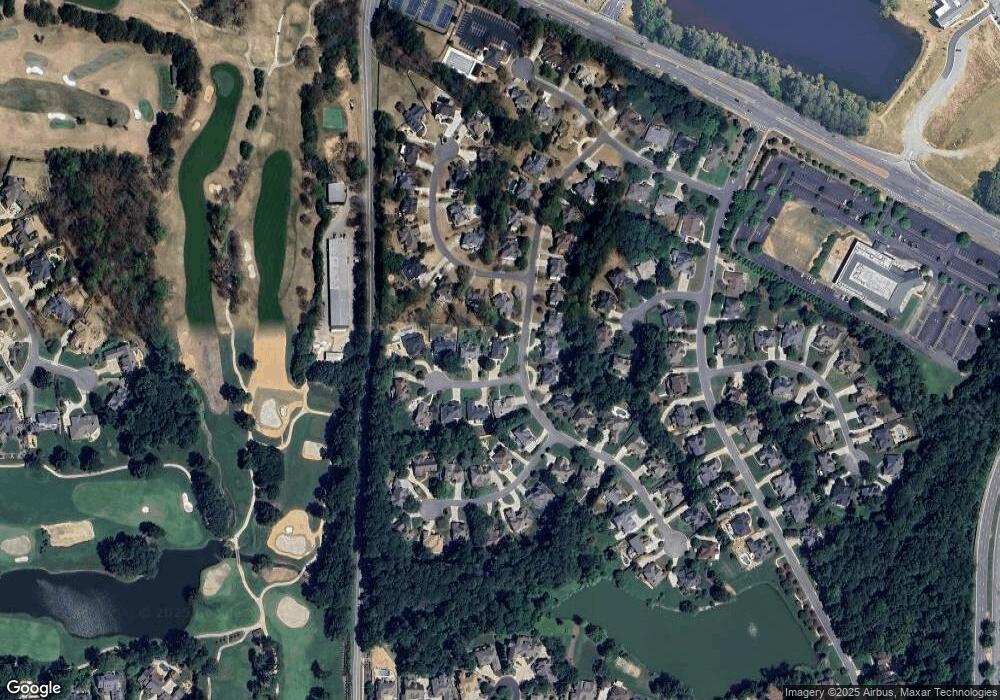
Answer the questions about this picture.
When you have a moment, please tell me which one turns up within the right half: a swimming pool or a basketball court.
swimming pool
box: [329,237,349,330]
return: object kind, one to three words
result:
building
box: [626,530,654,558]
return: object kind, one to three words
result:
house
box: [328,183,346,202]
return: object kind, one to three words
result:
shed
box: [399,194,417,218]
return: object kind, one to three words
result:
house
